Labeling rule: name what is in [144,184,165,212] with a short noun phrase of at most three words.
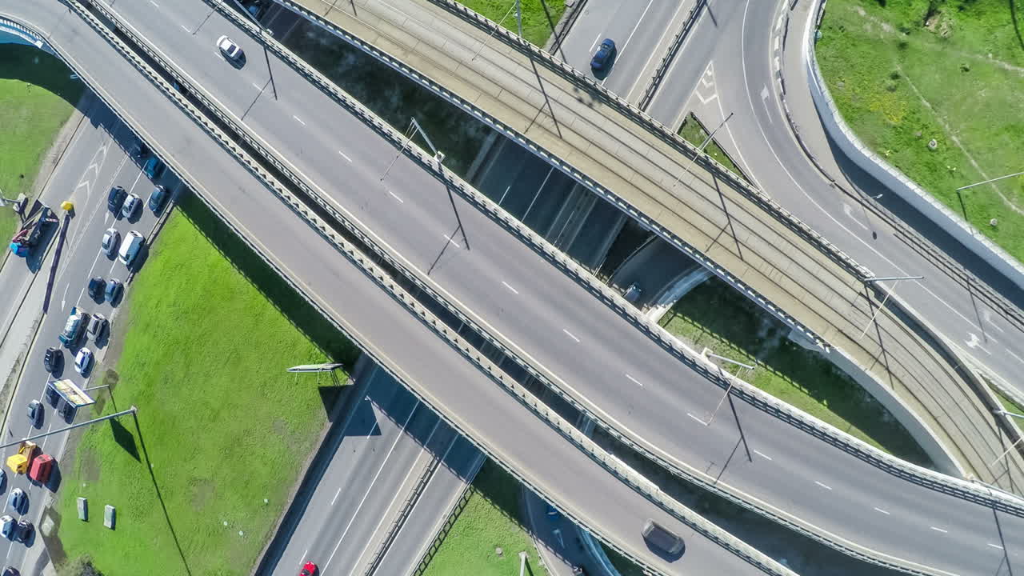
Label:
car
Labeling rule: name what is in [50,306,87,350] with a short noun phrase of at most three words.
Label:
truck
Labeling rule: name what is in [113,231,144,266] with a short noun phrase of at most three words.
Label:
van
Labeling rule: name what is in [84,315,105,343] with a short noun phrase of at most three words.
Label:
car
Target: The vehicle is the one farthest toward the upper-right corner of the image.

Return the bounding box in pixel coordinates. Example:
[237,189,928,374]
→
[591,37,617,71]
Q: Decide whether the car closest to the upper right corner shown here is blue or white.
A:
blue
